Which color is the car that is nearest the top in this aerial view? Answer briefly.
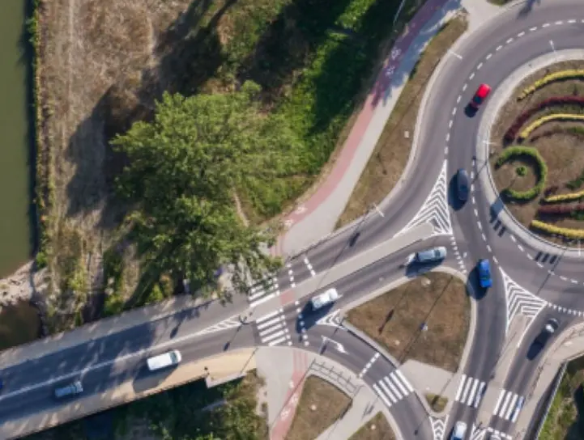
red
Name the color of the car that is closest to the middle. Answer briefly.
white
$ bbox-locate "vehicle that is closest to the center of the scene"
[311,288,340,309]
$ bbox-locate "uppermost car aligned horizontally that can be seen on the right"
[414,246,447,263]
